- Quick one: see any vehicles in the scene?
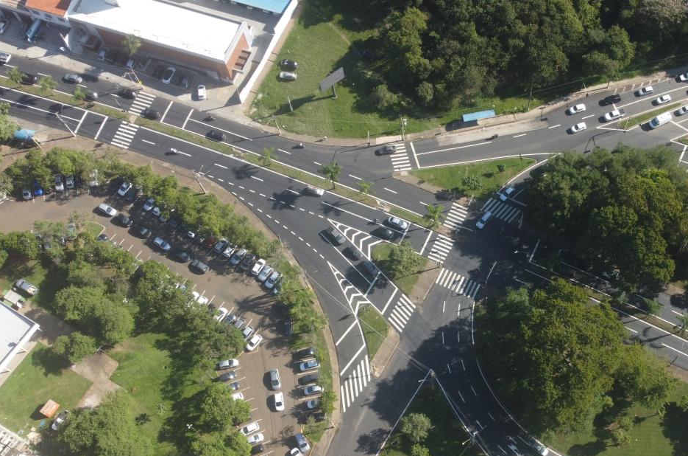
Yes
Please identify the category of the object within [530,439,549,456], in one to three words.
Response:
car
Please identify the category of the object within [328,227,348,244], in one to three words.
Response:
vehicle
